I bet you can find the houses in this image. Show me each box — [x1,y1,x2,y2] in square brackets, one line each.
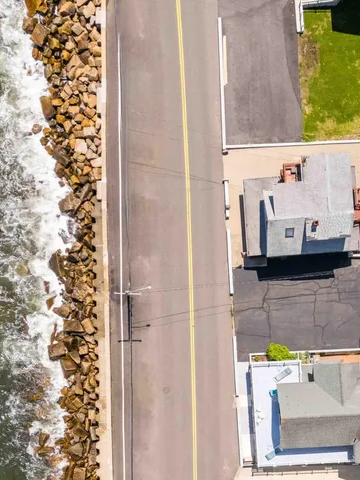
[250,352,360,468]
[243,152,360,262]
[296,0,341,39]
